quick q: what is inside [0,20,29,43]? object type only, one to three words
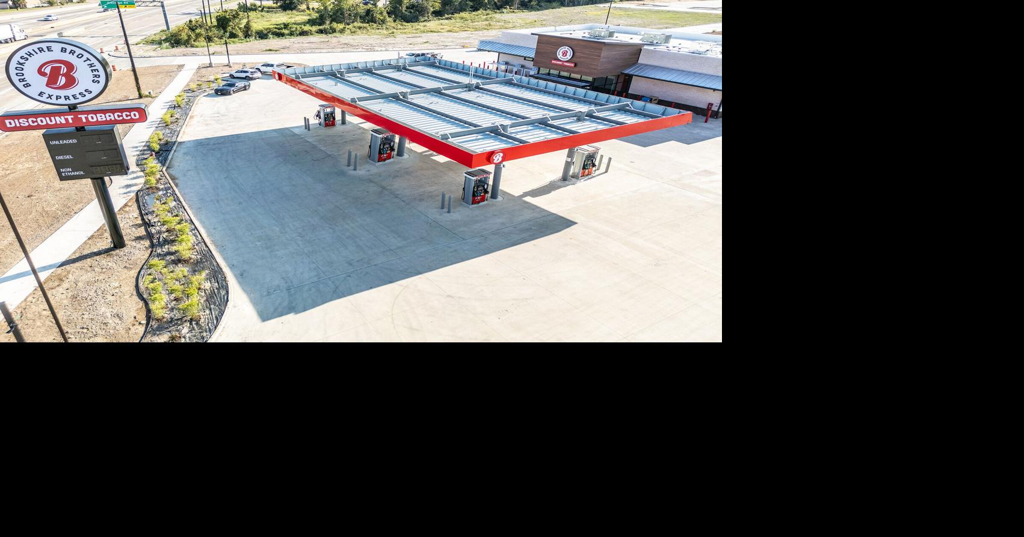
truck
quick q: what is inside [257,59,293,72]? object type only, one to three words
vehicle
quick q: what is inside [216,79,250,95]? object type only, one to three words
car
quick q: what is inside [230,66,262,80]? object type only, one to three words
car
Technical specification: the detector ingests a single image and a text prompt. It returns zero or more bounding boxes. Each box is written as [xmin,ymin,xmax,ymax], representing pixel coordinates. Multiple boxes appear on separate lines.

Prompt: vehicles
[0,20,29,43]
[216,79,250,95]
[47,12,60,20]
[257,59,293,72]
[230,66,262,80]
